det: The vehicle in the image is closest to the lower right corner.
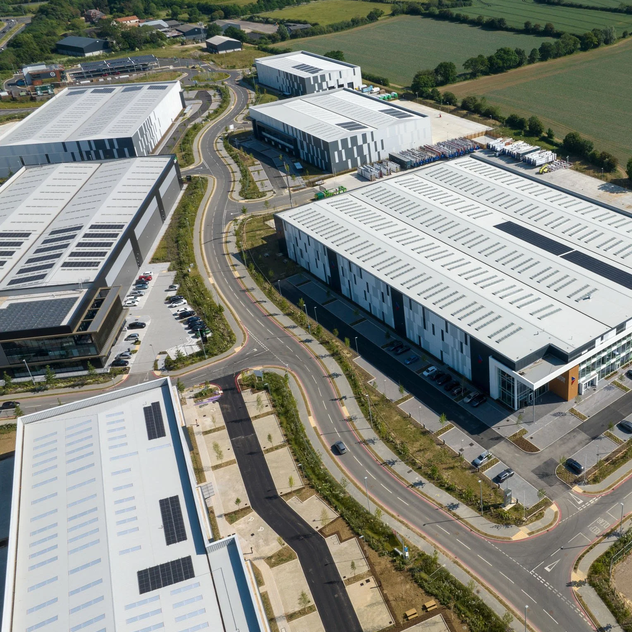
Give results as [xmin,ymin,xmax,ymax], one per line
[564,456,585,473]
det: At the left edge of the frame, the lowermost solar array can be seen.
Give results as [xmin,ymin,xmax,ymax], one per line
[0,297,72,331]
